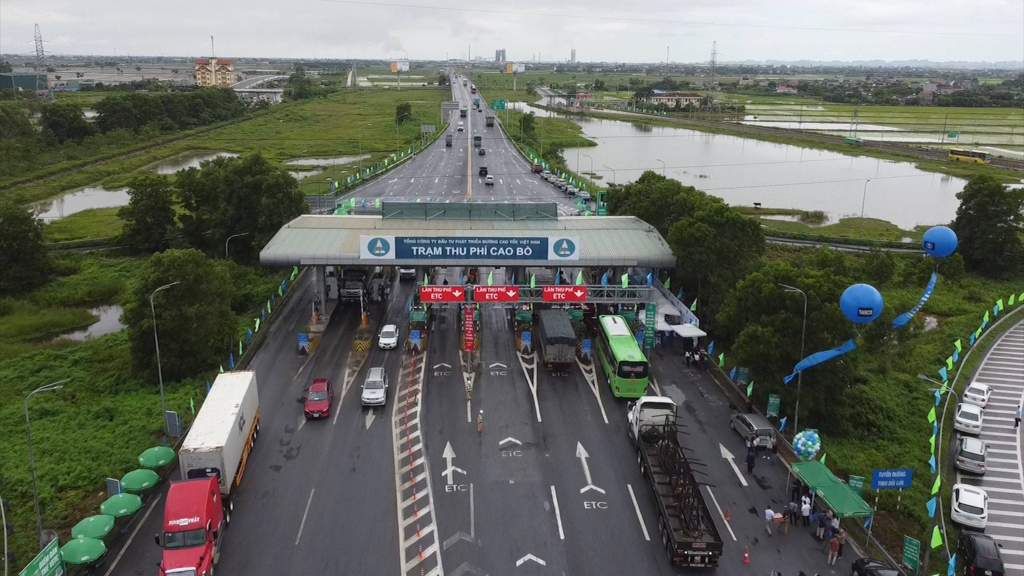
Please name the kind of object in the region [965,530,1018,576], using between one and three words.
car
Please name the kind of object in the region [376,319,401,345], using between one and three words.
car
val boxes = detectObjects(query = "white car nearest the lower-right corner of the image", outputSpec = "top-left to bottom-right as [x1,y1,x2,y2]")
[950,480,992,527]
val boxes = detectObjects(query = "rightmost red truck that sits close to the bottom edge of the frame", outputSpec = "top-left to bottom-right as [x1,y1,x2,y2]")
[145,412,257,576]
